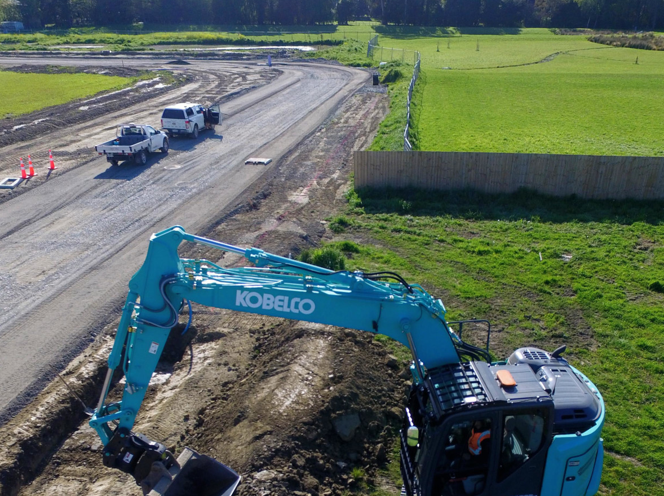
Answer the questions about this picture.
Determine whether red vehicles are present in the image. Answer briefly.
No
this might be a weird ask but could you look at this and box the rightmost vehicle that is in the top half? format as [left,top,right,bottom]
[158,100,222,137]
